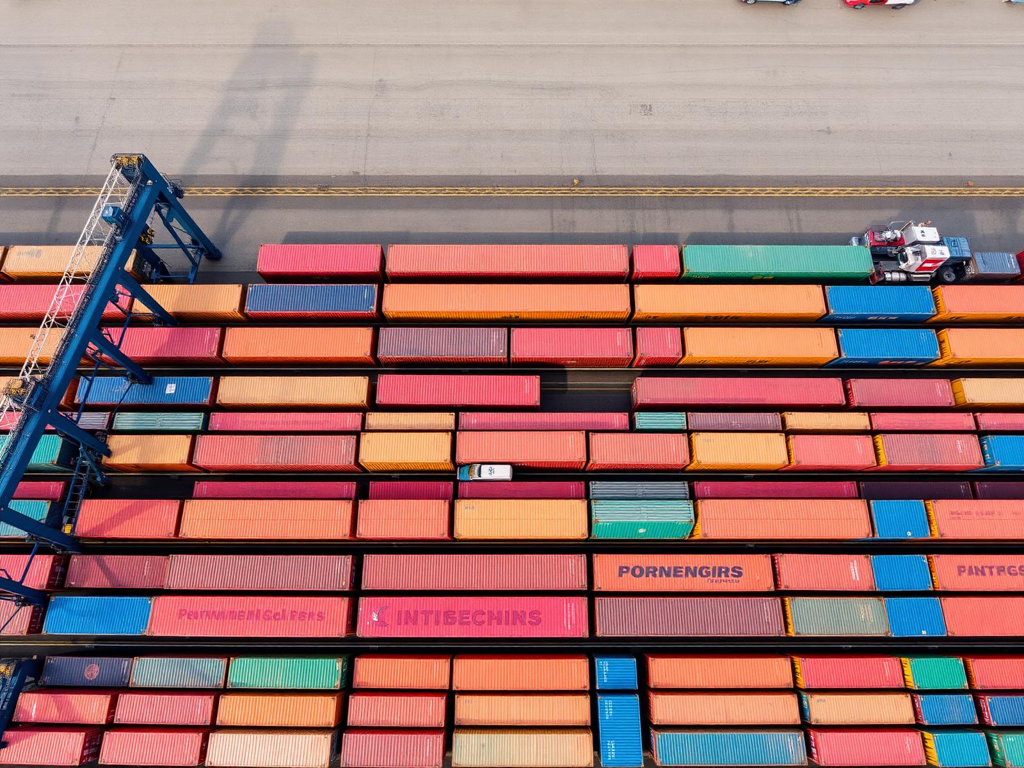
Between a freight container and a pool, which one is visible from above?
freight container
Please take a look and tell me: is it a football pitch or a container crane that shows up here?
container crane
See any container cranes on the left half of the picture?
Yes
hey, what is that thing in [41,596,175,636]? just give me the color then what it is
blue shipping container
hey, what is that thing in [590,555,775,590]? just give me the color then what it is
red shipping container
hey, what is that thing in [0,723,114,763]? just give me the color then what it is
pink shipping container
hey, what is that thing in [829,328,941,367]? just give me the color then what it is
blue shipping container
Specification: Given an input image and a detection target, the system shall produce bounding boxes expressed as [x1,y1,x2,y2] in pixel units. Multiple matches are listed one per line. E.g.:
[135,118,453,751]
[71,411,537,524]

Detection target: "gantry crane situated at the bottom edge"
[0,651,42,755]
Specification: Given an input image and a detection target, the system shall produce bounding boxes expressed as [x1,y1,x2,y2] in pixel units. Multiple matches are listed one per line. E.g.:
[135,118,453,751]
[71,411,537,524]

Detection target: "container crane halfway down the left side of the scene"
[0,150,225,608]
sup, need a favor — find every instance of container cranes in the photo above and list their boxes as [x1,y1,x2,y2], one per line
[0,651,42,755]
[0,150,225,608]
